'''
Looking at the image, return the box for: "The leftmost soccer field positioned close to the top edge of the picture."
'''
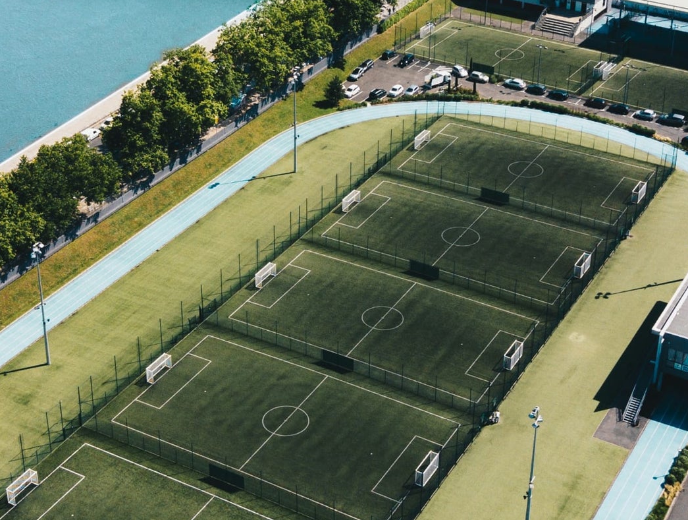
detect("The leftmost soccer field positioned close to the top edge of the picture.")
[395,17,628,94]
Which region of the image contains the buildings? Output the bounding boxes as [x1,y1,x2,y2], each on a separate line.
[505,0,622,30]
[620,0,688,53]
[649,270,688,397]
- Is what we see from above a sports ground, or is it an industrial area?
sports ground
